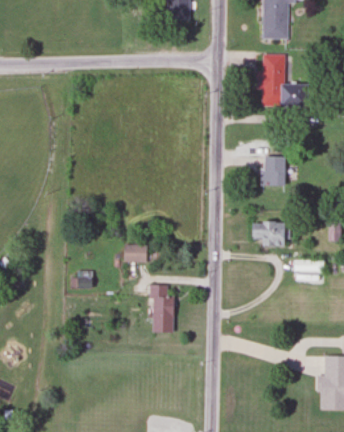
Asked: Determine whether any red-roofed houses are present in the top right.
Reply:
Yes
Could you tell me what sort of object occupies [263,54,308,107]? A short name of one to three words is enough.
house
